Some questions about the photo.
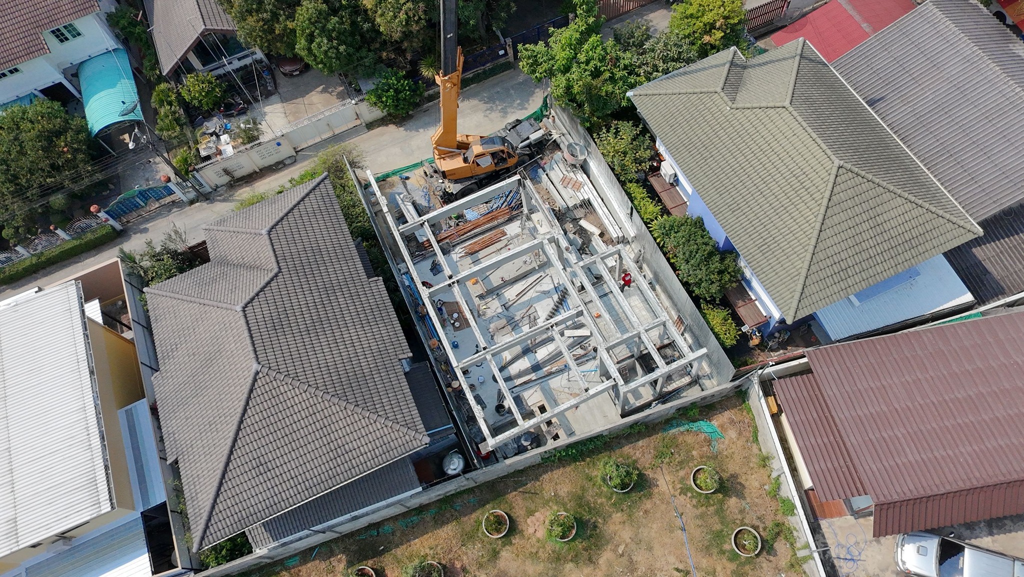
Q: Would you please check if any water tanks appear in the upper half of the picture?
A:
No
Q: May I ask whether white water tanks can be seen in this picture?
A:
No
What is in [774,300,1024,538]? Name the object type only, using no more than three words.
house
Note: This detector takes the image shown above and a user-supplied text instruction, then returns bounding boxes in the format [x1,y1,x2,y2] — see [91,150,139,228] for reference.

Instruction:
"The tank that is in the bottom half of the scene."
[435,448,464,479]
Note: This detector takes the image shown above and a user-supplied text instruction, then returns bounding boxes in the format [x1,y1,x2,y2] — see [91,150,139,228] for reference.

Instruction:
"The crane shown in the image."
[428,0,563,214]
